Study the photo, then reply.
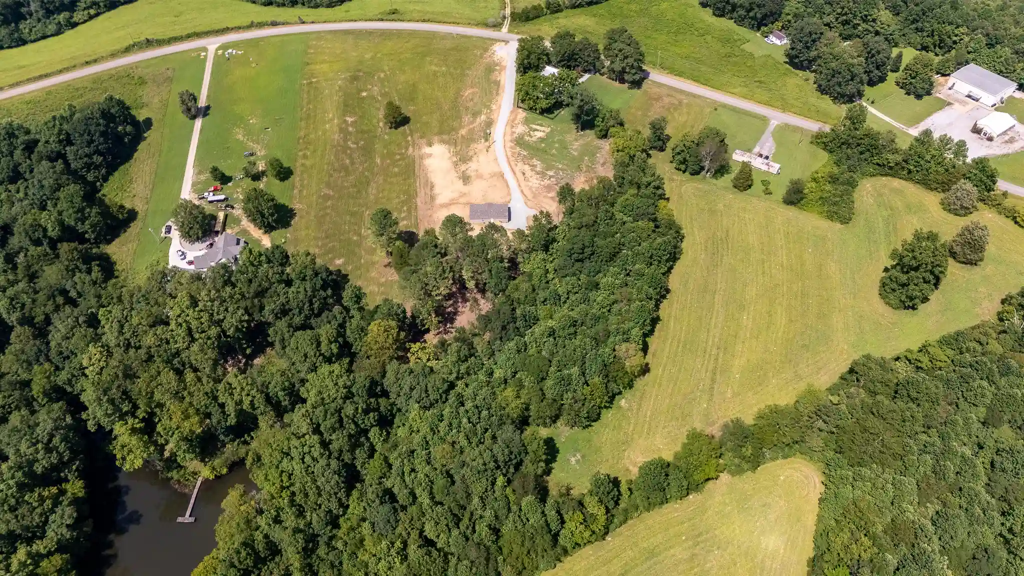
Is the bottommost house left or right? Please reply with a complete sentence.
The bottommost house appears in the left half of the scene.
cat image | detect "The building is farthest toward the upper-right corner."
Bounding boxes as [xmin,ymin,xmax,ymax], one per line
[946,61,1010,106]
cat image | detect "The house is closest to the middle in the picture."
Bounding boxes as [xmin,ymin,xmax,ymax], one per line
[470,201,508,226]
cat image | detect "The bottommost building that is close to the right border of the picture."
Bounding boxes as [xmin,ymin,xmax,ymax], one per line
[977,110,1017,139]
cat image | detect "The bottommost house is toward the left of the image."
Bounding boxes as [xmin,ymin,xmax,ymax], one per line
[193,234,243,272]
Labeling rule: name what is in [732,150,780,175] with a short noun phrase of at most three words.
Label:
house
